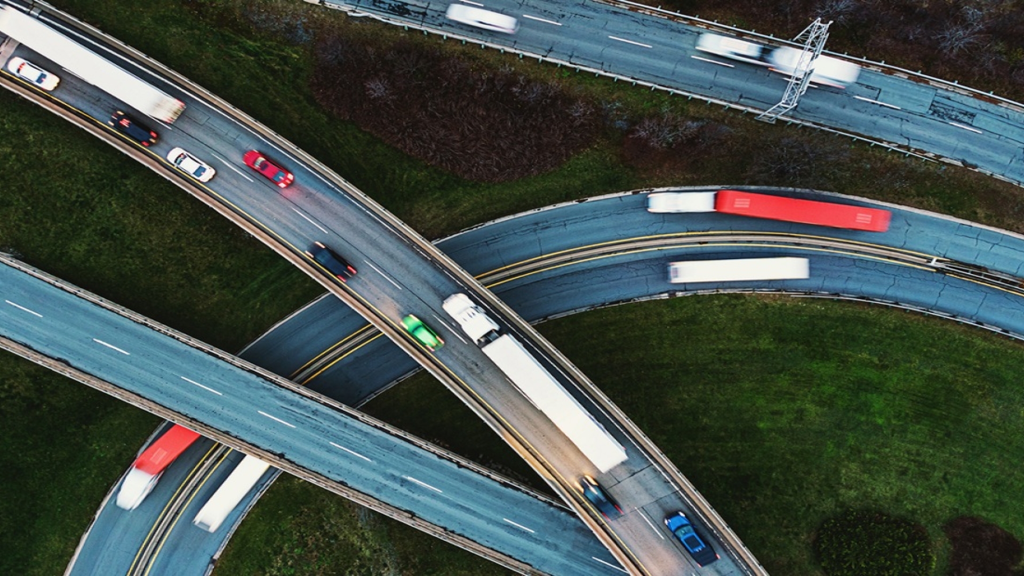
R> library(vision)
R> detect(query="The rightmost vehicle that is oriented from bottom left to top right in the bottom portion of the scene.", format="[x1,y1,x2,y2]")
[195,453,274,534]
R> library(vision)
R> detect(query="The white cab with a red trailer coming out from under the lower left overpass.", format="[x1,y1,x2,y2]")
[120,422,205,504]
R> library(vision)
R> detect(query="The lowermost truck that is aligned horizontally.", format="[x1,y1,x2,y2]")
[668,255,811,283]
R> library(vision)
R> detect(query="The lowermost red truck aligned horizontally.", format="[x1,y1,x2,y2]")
[644,189,889,234]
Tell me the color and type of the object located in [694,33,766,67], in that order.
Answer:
white van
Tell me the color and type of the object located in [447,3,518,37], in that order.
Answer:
white van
